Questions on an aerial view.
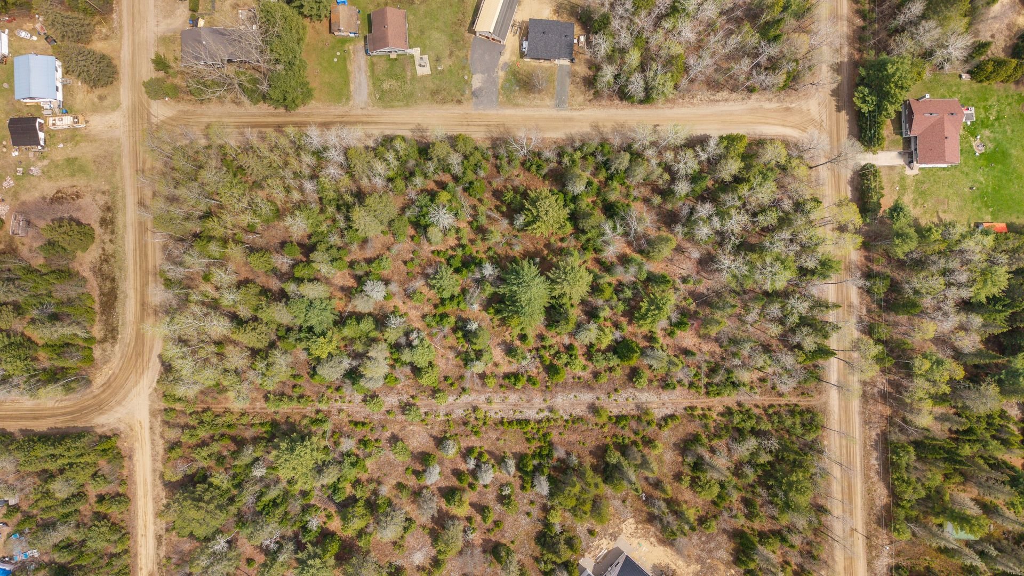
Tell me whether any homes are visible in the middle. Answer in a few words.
No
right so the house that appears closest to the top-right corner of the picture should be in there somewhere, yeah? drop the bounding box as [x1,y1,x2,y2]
[900,95,965,166]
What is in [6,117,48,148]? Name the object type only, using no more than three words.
building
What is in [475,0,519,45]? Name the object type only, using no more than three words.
barn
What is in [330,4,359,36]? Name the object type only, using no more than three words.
shed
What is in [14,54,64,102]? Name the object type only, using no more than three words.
house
